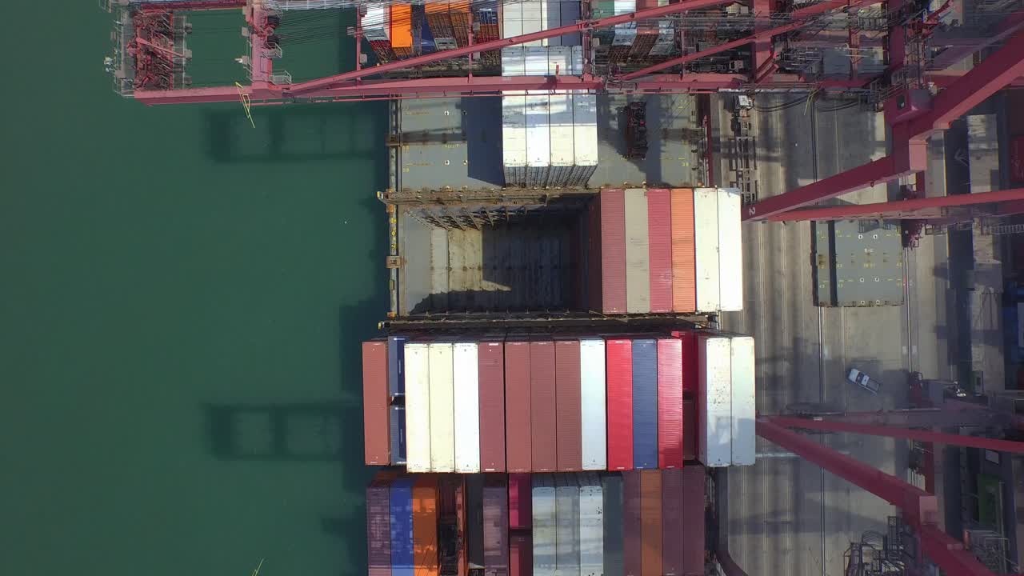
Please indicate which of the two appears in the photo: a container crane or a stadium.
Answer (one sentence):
I can see a container crane in this picture.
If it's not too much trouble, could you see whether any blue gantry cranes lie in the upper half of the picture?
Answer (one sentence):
No, no blue gantry crane is visible in the upper half of the picture.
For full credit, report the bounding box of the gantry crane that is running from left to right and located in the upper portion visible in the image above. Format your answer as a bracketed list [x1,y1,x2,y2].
[98,0,1024,253]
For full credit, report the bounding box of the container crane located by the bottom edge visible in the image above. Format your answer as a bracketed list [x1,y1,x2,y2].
[710,364,1024,576]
